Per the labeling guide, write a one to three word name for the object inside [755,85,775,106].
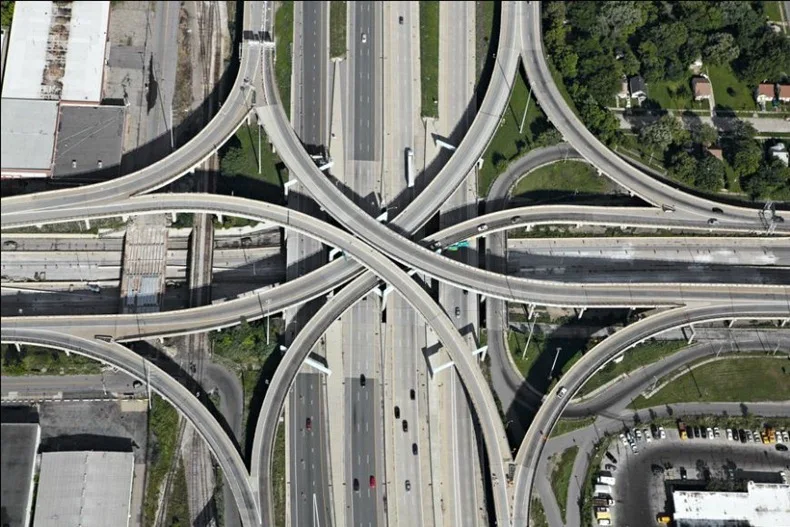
house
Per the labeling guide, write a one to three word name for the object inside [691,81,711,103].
house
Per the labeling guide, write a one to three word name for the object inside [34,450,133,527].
building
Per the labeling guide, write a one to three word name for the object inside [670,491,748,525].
building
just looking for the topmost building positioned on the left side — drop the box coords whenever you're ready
[1,0,111,109]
